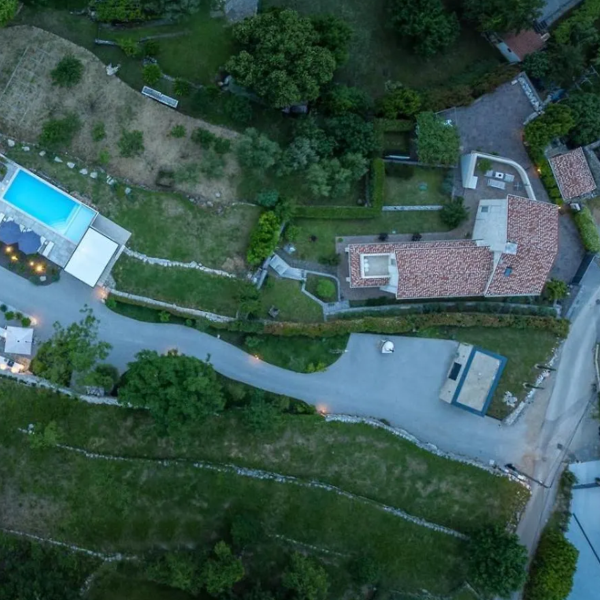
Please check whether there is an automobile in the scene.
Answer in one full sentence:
No, no automobile is visible in the scene.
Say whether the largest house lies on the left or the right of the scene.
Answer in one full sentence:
It is on the right.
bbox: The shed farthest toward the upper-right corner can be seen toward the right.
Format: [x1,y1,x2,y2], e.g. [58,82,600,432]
[489,12,551,62]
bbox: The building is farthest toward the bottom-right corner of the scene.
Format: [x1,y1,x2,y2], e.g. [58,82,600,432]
[428,341,507,417]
